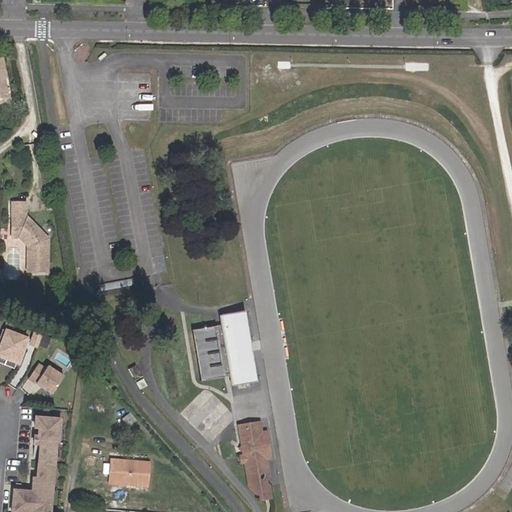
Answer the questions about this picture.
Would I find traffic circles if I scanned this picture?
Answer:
No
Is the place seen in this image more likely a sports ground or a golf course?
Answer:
sports ground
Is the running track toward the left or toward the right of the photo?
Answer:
right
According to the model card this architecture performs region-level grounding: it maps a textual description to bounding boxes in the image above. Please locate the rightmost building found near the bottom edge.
[238,421,279,502]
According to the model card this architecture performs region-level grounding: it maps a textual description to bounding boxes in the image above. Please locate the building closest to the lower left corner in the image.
[10,416,64,512]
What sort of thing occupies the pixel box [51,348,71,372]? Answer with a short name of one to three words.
swimming pool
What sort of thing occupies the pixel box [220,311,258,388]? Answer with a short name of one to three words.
building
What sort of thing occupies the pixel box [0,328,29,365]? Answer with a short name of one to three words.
house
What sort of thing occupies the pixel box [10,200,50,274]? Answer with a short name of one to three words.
house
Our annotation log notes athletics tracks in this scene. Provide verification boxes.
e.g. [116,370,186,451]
[231,117,512,512]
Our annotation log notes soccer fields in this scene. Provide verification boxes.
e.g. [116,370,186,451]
[264,138,497,510]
